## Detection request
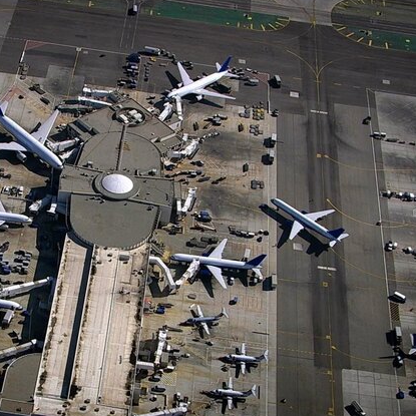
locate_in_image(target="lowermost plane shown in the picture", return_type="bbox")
[199,373,260,410]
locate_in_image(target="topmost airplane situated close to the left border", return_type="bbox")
[0,100,63,170]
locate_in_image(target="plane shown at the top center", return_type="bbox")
[166,57,241,102]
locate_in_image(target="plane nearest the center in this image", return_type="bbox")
[170,238,266,287]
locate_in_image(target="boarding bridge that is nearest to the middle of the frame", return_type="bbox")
[180,188,196,220]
